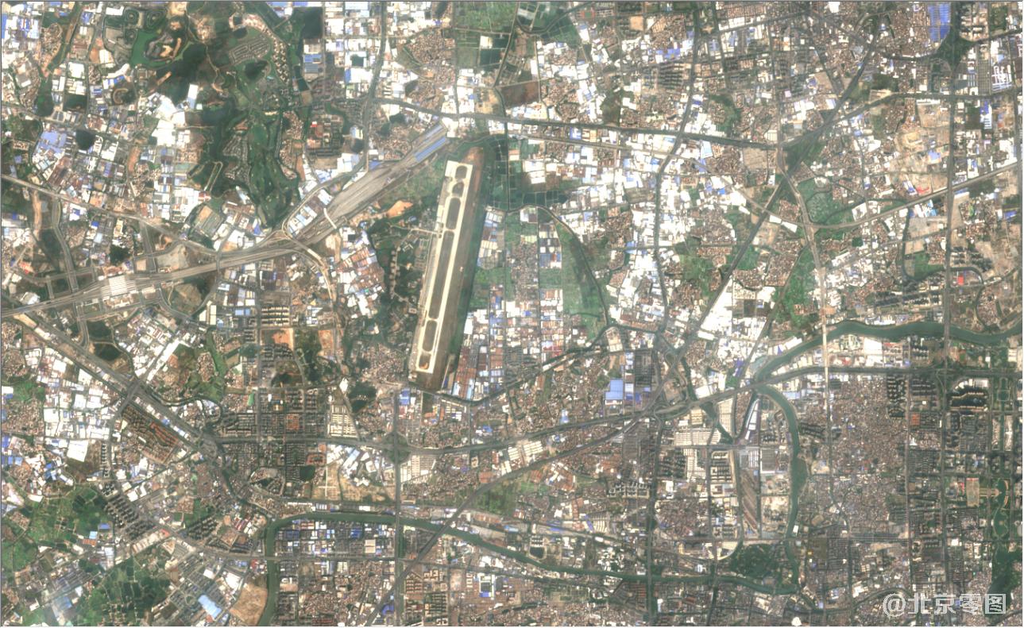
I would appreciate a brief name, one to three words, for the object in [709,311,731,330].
shed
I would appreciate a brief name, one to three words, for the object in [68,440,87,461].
shed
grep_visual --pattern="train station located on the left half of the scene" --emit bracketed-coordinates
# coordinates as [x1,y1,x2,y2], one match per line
[99,266,156,306]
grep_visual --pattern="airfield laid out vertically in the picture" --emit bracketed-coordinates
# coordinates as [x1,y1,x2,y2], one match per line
[409,147,483,387]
